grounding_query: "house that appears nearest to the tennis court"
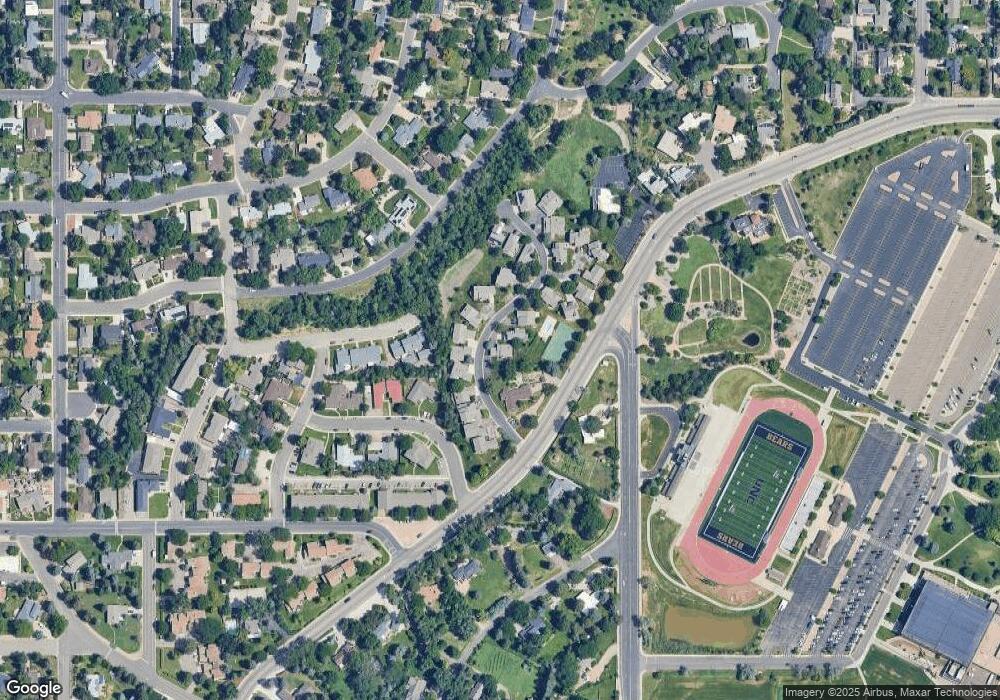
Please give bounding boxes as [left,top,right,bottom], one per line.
[562,295,583,321]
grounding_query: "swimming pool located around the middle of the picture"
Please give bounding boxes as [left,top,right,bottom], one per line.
[539,315,556,342]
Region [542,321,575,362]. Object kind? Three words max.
tennis court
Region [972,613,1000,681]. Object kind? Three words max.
building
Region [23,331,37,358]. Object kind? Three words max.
house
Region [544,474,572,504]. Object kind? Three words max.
house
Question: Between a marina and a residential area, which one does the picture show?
residential area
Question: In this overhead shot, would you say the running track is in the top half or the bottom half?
bottom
